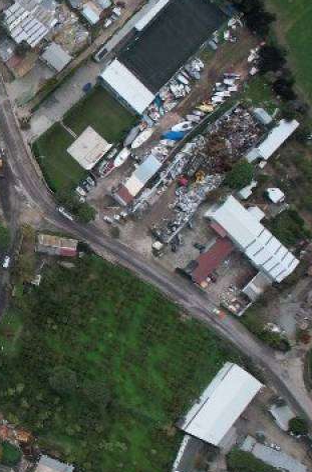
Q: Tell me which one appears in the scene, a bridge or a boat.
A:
boat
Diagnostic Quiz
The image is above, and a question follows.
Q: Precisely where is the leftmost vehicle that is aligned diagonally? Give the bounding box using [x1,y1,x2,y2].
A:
[55,204,76,223]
